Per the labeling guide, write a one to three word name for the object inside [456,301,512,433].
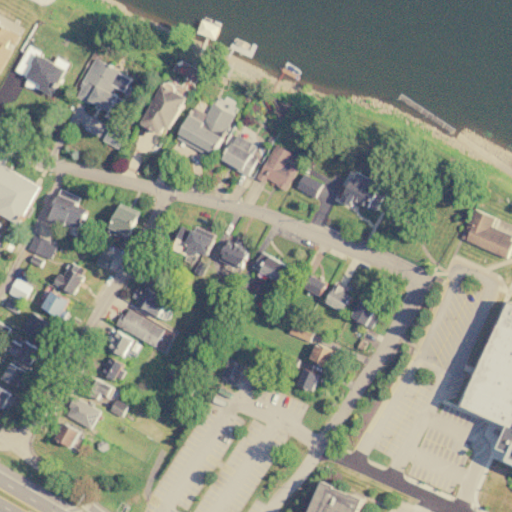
building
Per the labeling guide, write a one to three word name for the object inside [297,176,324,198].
building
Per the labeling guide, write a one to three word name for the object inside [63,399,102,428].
house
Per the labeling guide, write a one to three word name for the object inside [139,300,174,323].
house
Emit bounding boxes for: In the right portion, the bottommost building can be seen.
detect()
[310,482,370,512]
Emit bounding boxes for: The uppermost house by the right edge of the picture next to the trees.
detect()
[466,208,512,259]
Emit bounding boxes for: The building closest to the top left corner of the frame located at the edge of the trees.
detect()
[16,45,70,94]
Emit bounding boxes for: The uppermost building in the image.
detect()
[198,18,222,42]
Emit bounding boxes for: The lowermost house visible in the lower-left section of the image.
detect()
[56,424,87,450]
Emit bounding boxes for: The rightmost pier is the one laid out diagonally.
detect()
[398,94,454,133]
